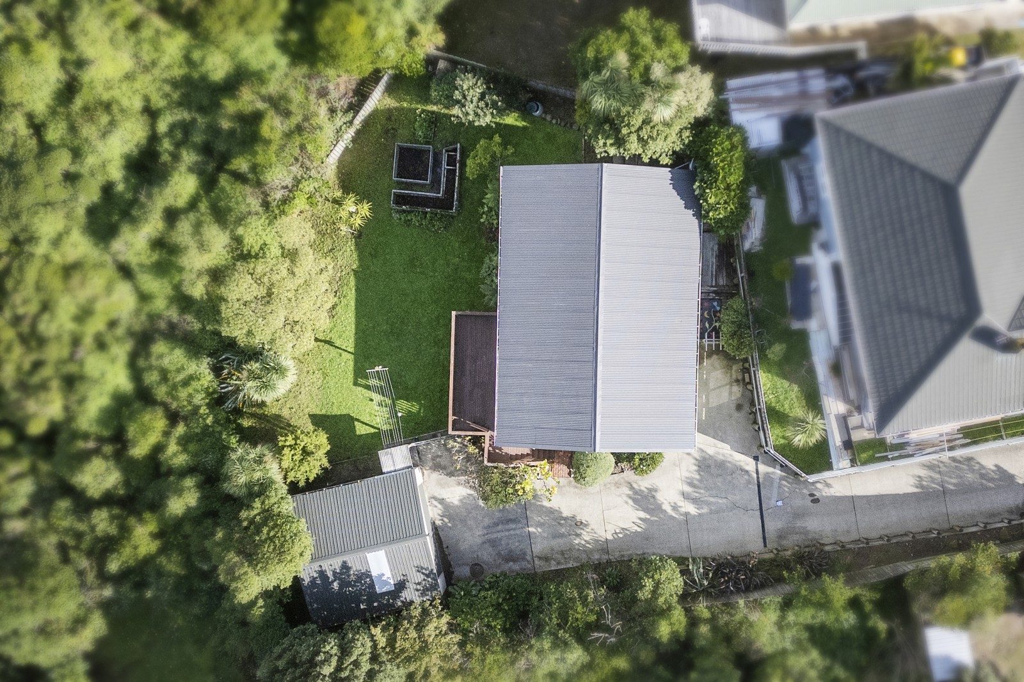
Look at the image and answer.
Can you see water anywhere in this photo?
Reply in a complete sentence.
No, there's no water in this view.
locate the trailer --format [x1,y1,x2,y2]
[834,50,904,95]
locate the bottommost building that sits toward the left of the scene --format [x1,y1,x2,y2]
[290,463,445,626]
